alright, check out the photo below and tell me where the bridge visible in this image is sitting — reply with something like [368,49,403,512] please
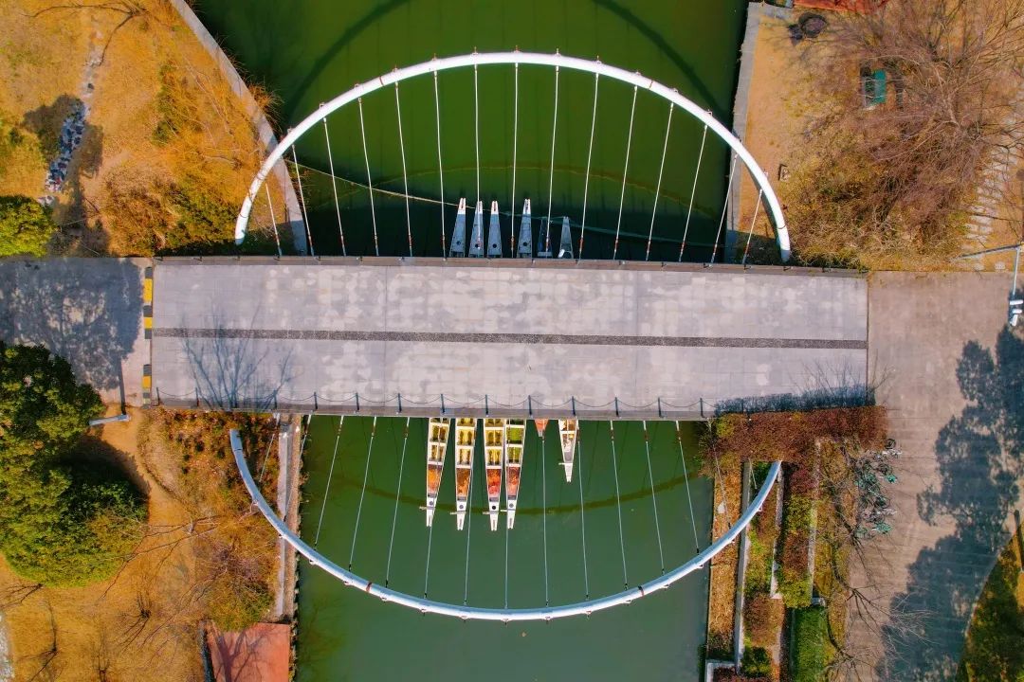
[146,39,873,631]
